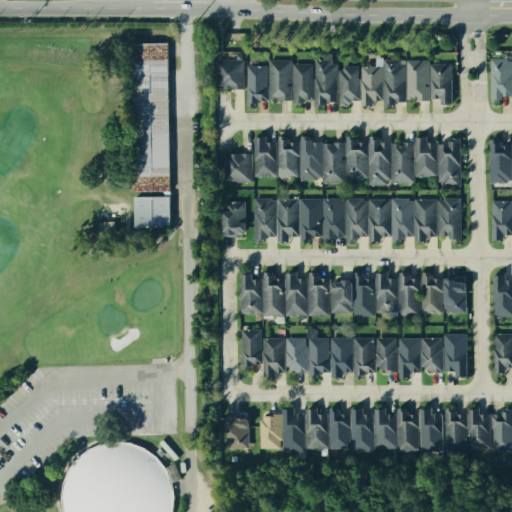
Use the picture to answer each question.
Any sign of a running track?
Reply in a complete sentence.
No, I can't see a single running track in this photo.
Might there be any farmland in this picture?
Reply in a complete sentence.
No, the scene doesn't show any farmland.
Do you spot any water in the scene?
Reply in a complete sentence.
No, no water is visible.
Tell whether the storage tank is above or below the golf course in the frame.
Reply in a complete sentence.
Looking at the scene, the storage tank is located below the golf course.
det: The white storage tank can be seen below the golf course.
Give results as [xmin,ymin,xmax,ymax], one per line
[60,442,175,512]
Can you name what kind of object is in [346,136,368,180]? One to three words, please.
house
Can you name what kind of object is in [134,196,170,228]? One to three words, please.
shed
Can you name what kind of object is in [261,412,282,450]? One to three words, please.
house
